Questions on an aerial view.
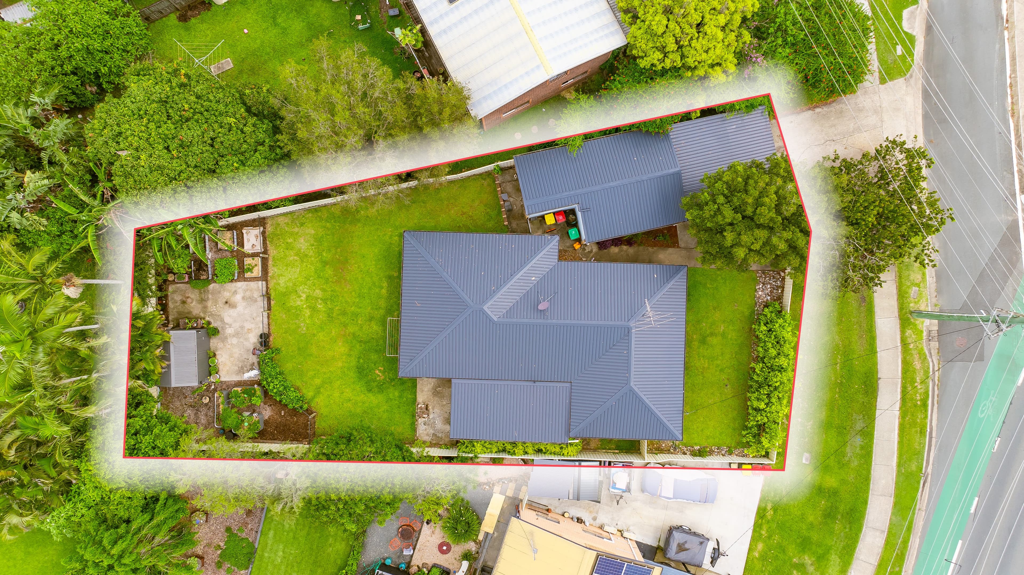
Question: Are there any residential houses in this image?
Yes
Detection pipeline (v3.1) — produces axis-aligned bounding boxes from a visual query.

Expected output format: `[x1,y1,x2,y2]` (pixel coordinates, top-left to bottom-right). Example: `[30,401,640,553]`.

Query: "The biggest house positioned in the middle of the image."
[396,228,695,443]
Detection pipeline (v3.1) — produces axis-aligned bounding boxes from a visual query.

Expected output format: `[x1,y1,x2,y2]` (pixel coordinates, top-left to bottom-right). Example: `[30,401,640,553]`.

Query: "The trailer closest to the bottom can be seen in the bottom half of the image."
[665,530,734,575]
